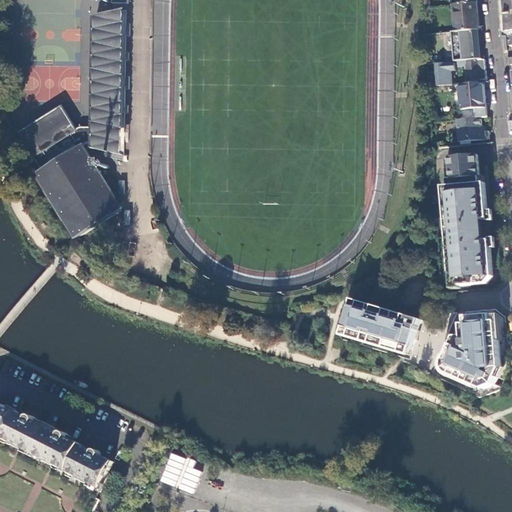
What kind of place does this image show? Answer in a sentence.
What you see here is a sports ground.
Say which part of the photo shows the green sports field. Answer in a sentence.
The green sports field is located in the top region of the scene.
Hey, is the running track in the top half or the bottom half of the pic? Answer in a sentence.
The top half of the photo is where the running track is.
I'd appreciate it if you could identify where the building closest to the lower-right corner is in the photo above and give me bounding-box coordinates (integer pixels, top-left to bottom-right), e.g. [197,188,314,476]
[436,310,510,399]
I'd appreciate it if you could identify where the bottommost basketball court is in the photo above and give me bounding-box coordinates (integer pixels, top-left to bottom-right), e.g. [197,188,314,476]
[16,66,80,102]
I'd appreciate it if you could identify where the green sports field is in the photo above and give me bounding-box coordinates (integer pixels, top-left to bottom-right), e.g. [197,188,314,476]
[175,0,366,272]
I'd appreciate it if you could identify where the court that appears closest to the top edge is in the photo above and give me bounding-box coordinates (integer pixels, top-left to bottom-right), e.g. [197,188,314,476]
[14,0,81,66]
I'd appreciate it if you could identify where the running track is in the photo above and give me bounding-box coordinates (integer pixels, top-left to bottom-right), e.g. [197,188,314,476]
[170,0,378,277]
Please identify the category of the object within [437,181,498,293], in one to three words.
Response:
building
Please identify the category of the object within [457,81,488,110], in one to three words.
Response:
house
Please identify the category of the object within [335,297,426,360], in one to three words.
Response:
building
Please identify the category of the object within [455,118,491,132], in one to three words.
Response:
house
